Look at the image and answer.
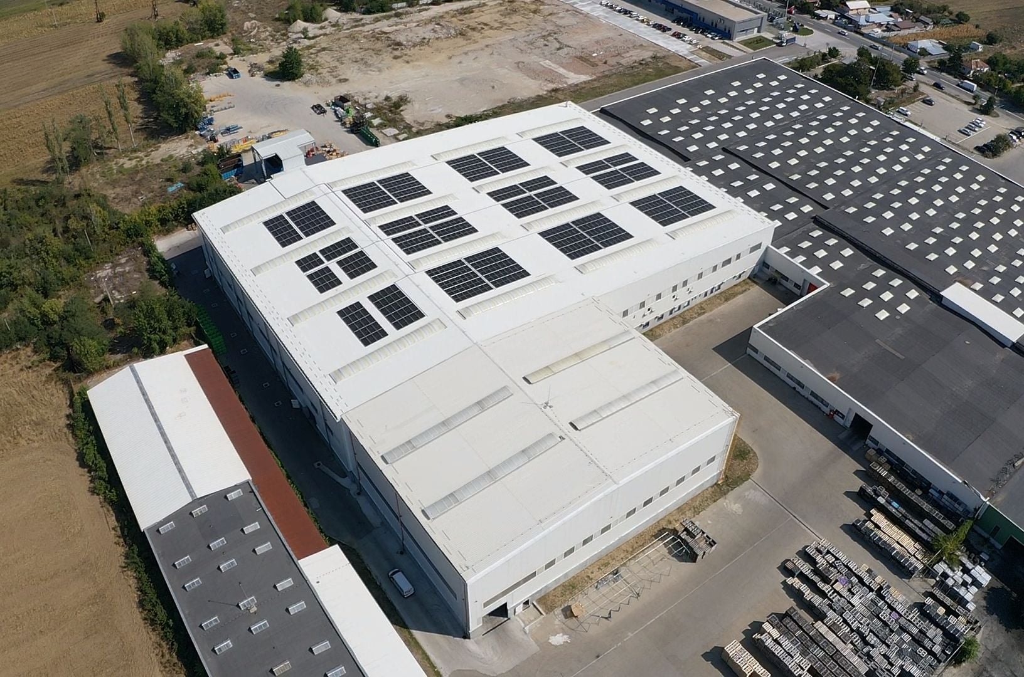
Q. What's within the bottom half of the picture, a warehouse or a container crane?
warehouse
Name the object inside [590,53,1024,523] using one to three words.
building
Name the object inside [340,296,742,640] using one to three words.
warehouse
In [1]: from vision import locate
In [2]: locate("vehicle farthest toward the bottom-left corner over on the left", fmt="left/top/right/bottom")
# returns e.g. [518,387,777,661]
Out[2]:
[385,567,412,598]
